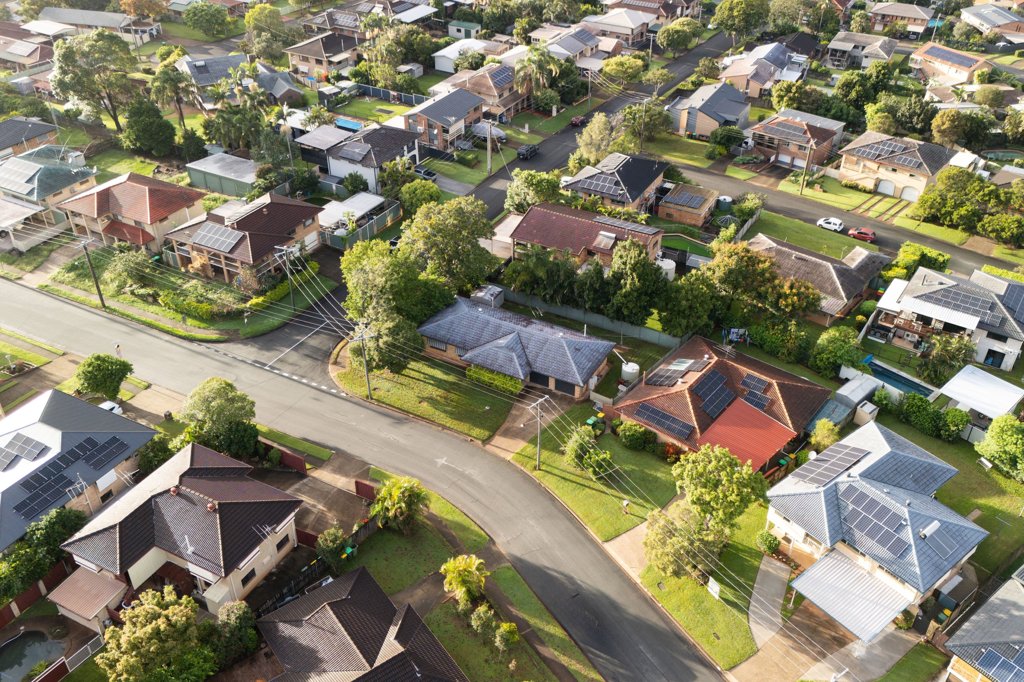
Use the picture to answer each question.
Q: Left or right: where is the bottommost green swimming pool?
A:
right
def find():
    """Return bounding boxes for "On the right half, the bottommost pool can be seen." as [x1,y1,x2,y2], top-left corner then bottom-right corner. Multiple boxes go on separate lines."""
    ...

[864,359,930,394]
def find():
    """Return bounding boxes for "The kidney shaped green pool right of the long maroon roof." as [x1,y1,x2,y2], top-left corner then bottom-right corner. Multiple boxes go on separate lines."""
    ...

[664,235,703,258]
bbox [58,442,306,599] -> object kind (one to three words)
house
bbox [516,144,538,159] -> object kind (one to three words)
car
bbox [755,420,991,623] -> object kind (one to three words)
house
